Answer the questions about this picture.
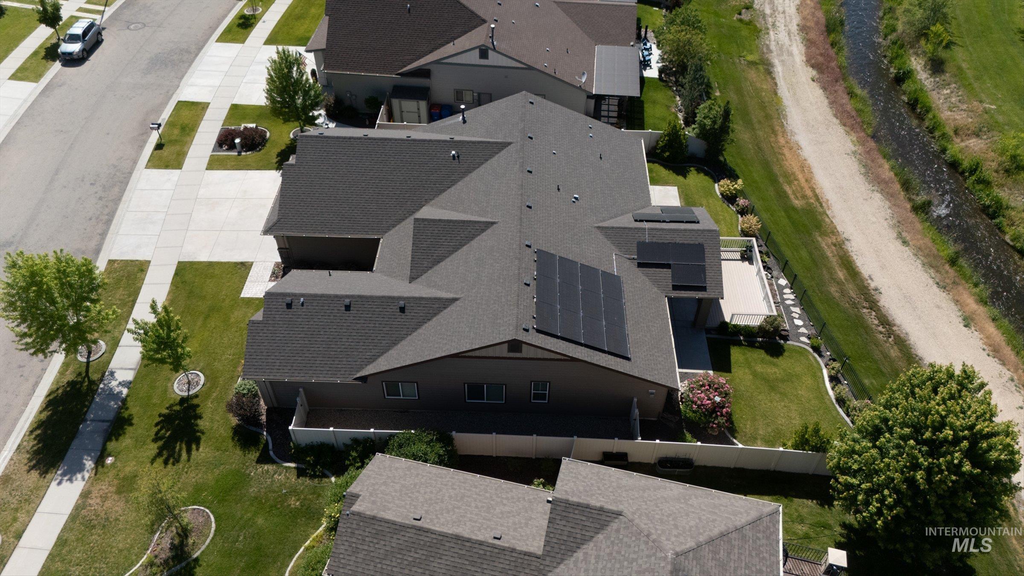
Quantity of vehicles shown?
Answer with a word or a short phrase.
1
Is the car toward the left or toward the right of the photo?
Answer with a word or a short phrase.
left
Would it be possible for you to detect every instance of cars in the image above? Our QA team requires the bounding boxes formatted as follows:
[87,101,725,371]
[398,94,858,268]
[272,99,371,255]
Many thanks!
[54,14,104,60]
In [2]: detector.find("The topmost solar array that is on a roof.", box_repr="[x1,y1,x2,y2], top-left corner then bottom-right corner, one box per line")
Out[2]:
[632,207,701,224]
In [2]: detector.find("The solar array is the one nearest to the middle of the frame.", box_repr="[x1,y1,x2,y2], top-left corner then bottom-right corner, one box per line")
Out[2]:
[531,248,630,360]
